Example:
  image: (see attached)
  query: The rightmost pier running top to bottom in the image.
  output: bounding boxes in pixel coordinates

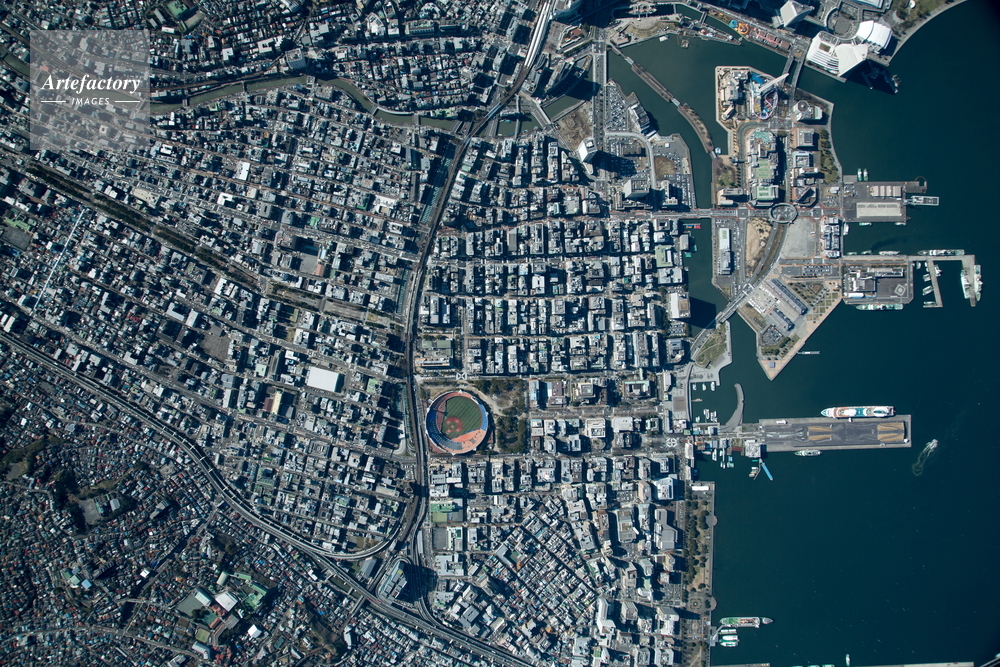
[923,261,943,307]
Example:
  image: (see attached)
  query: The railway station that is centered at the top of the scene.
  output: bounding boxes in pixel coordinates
[524,0,555,67]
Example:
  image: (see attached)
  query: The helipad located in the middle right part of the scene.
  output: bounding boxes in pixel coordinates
[892,281,908,298]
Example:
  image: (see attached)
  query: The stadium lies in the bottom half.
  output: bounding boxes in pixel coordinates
[424,391,489,457]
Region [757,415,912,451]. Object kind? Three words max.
pier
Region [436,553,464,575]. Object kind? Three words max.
building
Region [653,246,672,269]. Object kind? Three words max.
building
